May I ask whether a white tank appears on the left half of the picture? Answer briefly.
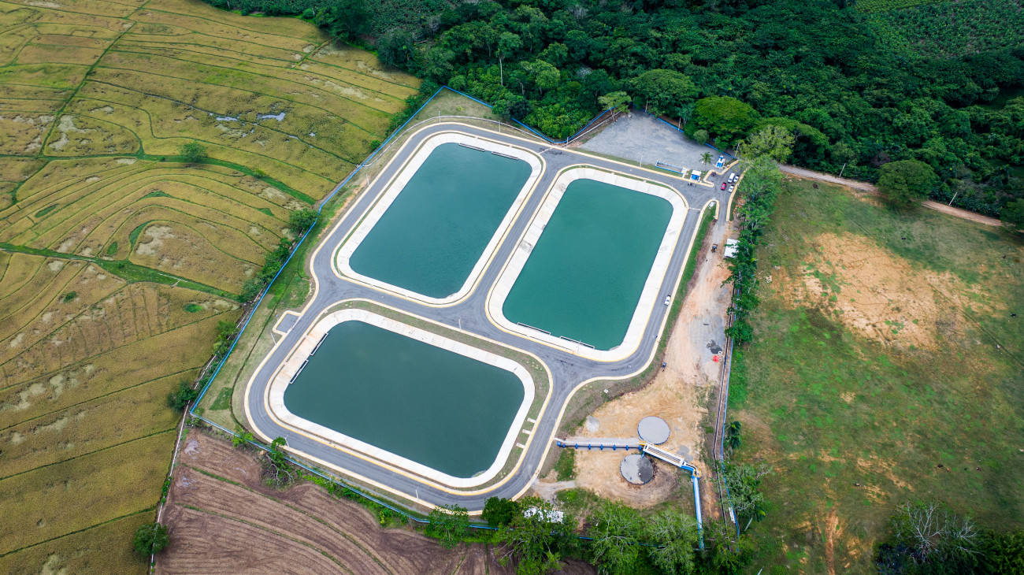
No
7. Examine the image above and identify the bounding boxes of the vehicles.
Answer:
[664,294,672,306]
[710,245,717,254]
[720,182,727,191]
[733,174,741,183]
[727,173,734,182]
[728,184,735,193]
